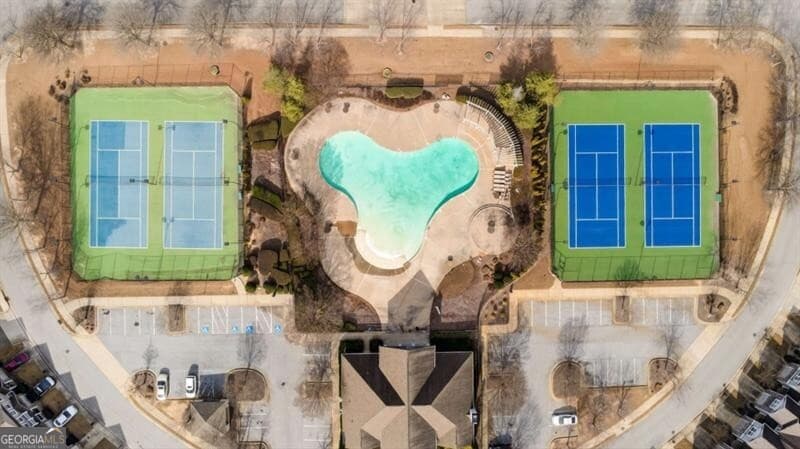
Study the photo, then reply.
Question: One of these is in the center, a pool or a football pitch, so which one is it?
pool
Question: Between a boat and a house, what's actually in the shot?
house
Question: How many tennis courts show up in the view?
4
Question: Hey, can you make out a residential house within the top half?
No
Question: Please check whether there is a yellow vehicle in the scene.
No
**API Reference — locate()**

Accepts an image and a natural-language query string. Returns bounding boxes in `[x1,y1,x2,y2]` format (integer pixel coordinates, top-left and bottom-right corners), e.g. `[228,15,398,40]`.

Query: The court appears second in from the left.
[156,86,241,280]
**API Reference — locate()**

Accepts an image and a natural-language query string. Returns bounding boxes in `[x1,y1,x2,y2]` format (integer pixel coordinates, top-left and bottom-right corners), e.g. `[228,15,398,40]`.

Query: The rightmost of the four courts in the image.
[635,90,717,280]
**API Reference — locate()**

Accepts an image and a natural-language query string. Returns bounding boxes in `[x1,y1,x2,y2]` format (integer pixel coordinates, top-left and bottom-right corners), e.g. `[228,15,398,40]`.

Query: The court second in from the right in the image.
[551,90,635,281]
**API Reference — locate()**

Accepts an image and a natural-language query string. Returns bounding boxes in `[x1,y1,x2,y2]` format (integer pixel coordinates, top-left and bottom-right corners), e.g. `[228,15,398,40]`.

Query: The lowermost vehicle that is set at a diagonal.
[51,404,77,426]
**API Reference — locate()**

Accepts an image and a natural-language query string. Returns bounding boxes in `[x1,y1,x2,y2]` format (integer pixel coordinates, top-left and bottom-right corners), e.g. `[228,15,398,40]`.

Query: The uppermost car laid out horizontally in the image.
[552,412,578,425]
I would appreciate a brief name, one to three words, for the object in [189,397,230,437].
building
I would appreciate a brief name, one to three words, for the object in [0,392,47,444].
house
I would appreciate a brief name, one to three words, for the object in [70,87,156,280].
tennis court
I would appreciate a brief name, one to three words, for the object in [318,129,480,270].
swimming pool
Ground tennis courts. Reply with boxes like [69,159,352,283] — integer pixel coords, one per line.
[70,87,156,280]
[551,90,635,281]
[635,90,717,280]
[156,86,241,280]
